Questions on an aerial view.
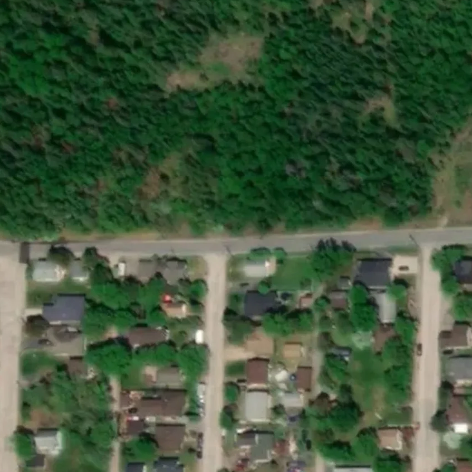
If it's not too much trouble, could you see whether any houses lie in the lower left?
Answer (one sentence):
Yes, a house is visible in the lower left.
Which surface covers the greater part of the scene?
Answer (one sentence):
The scene is dominated by trees.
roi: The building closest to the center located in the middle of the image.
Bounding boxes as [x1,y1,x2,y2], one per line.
[242,262,269,279]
